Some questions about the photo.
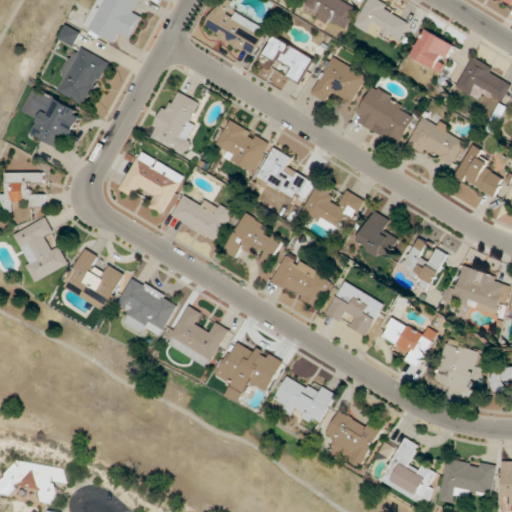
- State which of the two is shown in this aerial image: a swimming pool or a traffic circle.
swimming pool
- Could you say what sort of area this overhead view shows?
residential area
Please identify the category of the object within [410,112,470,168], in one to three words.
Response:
house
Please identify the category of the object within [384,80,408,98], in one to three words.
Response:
swimming pool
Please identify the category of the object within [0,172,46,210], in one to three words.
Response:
house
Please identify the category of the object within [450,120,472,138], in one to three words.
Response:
swimming pool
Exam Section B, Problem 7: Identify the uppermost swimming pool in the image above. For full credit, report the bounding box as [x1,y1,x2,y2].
[231,0,271,24]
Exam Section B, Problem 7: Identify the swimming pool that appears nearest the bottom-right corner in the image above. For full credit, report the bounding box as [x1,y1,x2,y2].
[372,459,386,480]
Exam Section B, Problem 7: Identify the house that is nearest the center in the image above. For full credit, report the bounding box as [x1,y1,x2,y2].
[226,214,284,257]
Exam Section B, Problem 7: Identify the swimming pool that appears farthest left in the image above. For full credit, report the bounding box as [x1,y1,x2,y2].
[0,242,20,271]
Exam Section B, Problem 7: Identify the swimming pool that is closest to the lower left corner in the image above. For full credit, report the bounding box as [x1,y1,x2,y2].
[64,290,96,318]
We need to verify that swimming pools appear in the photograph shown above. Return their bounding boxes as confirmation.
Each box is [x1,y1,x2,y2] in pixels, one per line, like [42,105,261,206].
[372,459,386,480]
[384,80,408,98]
[0,242,20,271]
[288,26,318,55]
[398,306,429,328]
[500,316,512,345]
[239,386,268,414]
[450,120,472,138]
[309,223,329,238]
[394,272,414,288]
[231,0,271,24]
[467,309,500,330]
[204,102,224,126]
[64,290,96,318]
[187,169,224,203]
